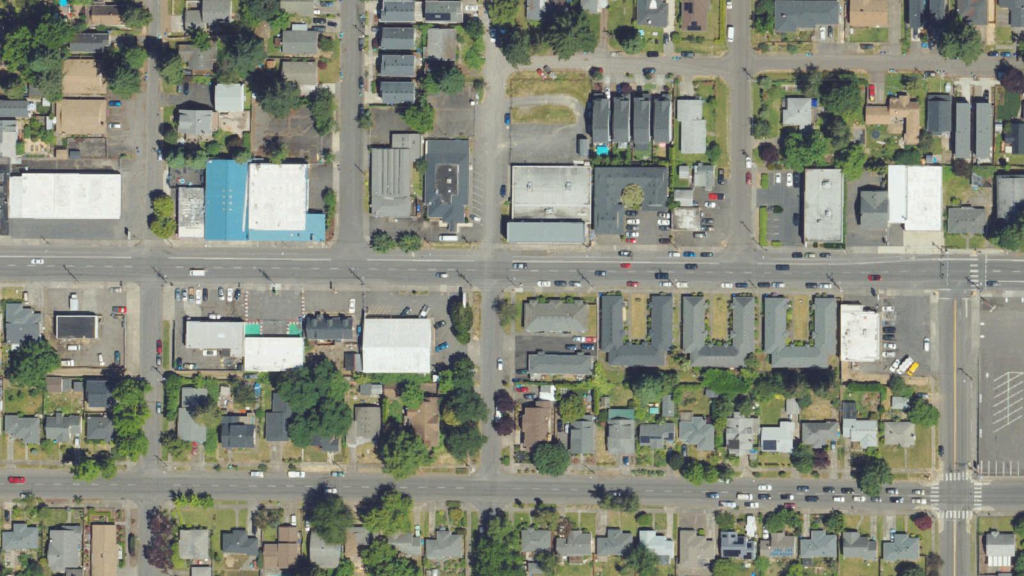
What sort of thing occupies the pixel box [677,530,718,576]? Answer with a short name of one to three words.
house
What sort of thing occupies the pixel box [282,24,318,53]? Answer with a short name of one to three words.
house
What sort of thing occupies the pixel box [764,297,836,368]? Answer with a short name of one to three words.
building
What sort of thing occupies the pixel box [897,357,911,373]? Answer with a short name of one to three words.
vehicle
